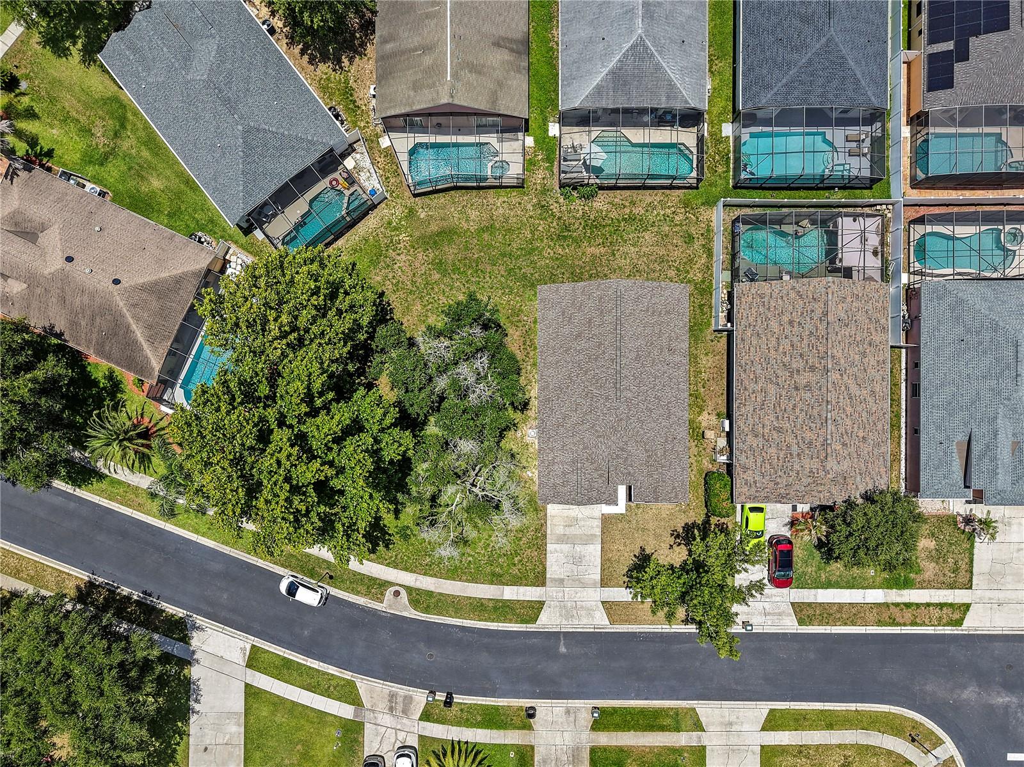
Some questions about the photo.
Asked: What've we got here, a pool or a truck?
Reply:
pool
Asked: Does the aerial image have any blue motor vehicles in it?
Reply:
No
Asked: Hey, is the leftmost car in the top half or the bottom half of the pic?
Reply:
bottom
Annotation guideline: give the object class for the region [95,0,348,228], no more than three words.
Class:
house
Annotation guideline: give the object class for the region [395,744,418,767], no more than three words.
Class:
car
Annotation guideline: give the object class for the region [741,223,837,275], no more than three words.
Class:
swimming pool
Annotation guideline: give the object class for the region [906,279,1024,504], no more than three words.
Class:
house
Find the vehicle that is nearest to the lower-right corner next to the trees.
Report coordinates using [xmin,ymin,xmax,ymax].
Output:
[768,534,797,588]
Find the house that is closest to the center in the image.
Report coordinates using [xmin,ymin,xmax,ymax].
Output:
[538,279,689,504]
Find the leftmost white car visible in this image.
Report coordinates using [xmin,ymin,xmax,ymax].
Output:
[278,572,331,608]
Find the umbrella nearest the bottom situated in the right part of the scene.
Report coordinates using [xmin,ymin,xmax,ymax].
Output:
[792,215,812,233]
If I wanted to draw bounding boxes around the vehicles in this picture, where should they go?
[363,753,387,767]
[278,572,331,608]
[395,744,418,767]
[768,534,797,588]
[742,504,770,552]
